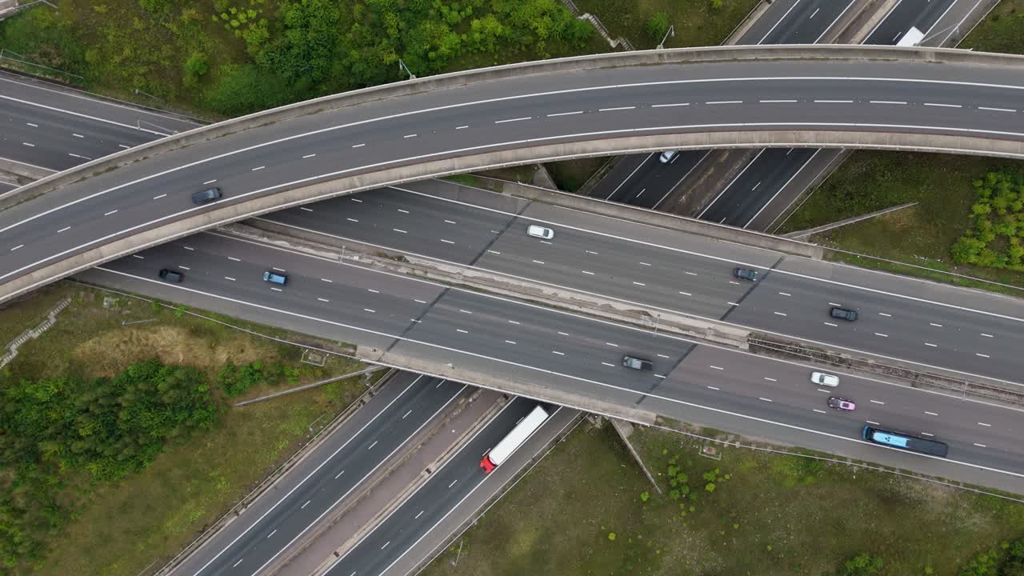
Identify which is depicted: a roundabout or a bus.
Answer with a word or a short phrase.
bus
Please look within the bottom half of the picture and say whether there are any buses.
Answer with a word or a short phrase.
Yes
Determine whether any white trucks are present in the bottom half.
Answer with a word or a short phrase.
Yes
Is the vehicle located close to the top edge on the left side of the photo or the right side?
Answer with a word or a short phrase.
right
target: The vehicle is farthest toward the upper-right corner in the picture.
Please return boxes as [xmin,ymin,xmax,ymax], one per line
[891,27,924,47]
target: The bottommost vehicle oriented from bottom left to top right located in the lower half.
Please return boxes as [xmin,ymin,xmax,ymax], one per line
[477,402,549,474]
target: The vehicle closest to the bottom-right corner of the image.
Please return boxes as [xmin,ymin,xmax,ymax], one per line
[862,423,948,456]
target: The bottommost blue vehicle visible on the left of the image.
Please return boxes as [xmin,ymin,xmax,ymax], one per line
[263,271,288,284]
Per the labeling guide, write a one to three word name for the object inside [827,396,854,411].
car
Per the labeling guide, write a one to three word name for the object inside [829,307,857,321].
car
